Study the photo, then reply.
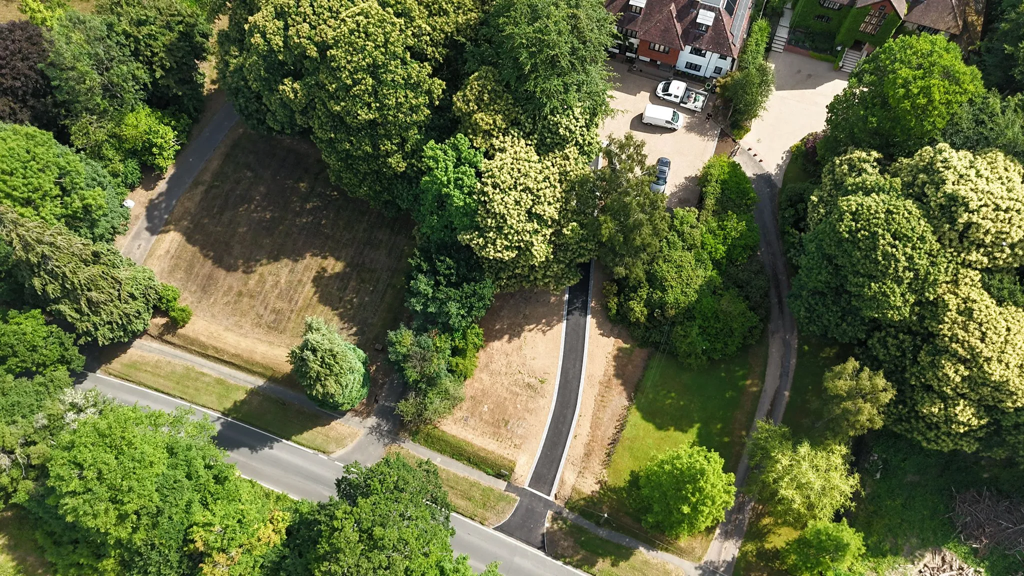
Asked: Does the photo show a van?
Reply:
Yes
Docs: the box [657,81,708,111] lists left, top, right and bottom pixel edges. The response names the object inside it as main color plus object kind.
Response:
white truck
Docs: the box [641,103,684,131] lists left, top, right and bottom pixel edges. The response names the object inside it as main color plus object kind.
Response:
white van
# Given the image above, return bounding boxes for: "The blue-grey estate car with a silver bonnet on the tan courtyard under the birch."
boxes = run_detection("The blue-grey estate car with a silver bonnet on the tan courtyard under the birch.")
[652,152,674,189]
